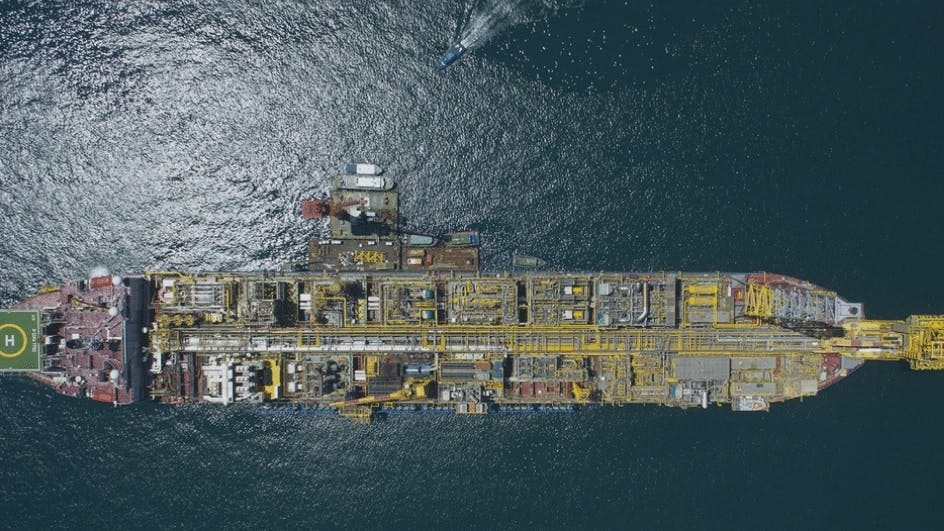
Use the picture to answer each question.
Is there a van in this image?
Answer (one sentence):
No, no van can be seen from above.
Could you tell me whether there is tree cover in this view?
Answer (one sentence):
No, there is no tree cover in the image.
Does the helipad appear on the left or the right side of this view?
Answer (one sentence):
The helipad sits on the left side.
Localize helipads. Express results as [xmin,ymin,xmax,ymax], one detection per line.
[0,308,60,374]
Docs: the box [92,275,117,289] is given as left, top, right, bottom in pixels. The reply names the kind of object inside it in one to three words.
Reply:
boat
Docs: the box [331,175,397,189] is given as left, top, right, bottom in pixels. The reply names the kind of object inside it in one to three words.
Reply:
boat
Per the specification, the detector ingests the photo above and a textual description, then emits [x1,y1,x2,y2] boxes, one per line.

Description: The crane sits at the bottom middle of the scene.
[337,379,427,407]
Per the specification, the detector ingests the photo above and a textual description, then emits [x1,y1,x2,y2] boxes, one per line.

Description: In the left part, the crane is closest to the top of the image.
[301,198,371,226]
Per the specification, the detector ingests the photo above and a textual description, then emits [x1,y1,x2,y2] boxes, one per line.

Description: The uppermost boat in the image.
[439,41,467,70]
